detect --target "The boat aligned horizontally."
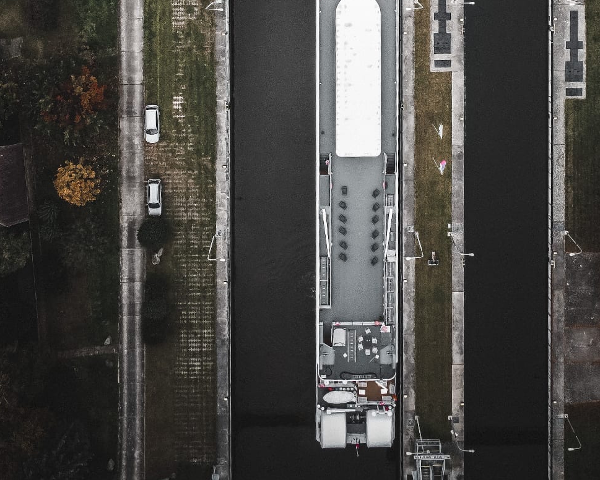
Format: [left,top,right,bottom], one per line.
[323,390,356,402]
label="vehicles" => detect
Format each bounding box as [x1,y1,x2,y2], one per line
[145,181,161,216]
[142,107,159,143]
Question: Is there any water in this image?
Yes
